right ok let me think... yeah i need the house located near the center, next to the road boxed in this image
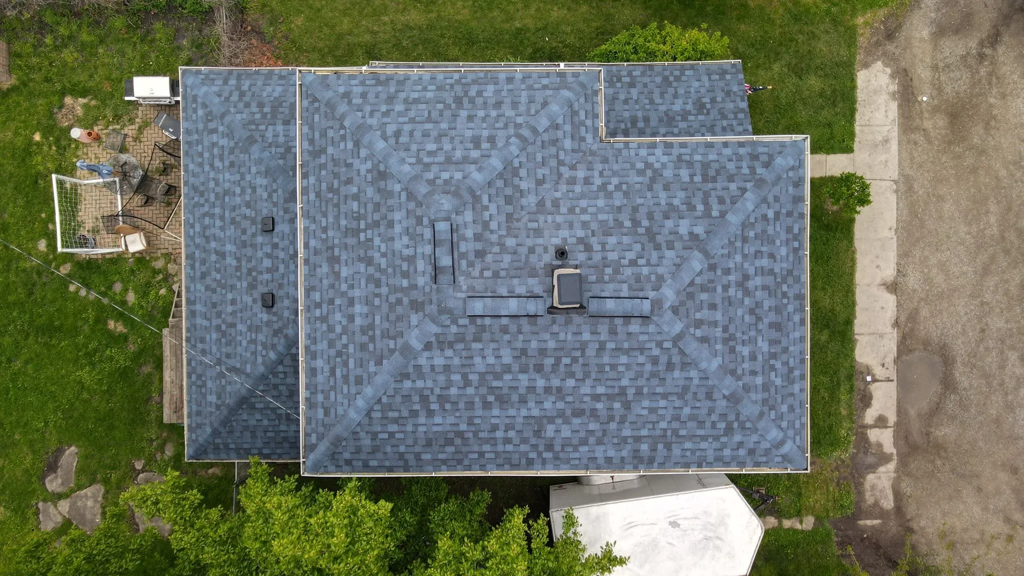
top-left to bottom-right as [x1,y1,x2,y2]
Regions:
[179,61,809,475]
